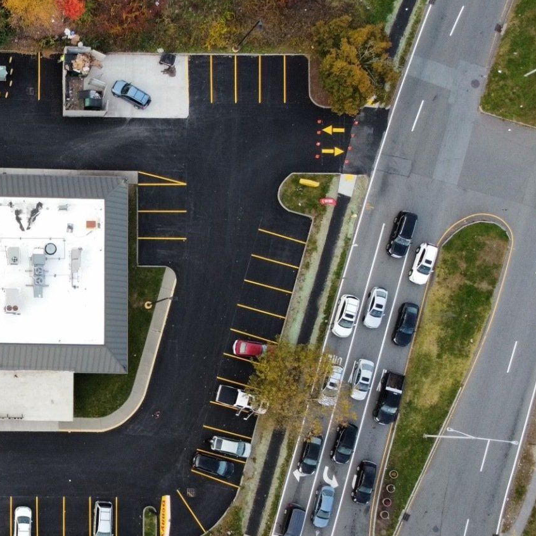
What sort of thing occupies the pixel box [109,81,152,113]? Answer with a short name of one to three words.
car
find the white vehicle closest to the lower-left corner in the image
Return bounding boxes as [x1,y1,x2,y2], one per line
[13,504,33,536]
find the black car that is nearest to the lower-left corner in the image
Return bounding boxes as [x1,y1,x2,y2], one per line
[190,452,235,478]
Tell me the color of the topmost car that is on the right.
black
